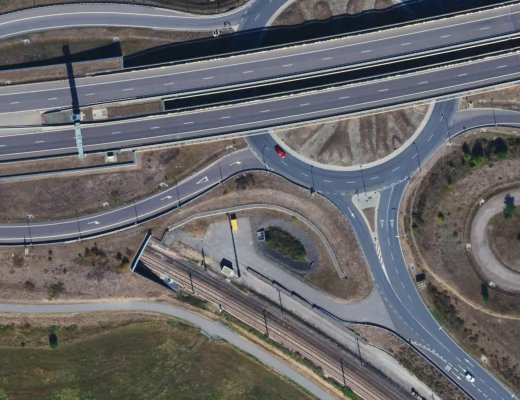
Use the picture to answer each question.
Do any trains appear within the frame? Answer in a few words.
No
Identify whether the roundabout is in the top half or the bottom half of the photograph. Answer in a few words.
top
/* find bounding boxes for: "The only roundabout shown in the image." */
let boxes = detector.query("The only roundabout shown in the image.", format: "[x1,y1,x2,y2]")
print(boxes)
[230,0,461,194]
